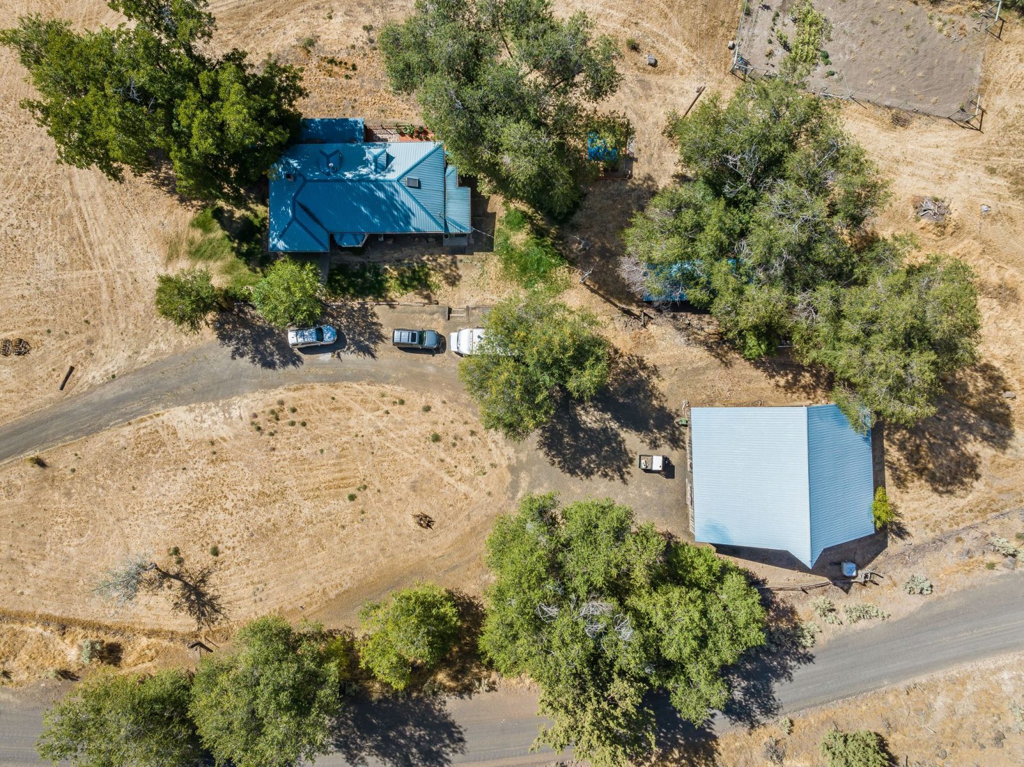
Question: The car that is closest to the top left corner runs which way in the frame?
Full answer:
From this overhead view, the car that is closest to the top left corner appears to run from side to side.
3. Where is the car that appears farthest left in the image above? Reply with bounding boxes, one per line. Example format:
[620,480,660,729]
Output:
[287,325,339,349]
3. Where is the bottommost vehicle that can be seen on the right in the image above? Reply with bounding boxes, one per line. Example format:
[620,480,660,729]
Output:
[638,452,666,470]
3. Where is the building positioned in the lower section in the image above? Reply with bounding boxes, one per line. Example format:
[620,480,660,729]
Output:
[685,403,876,566]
